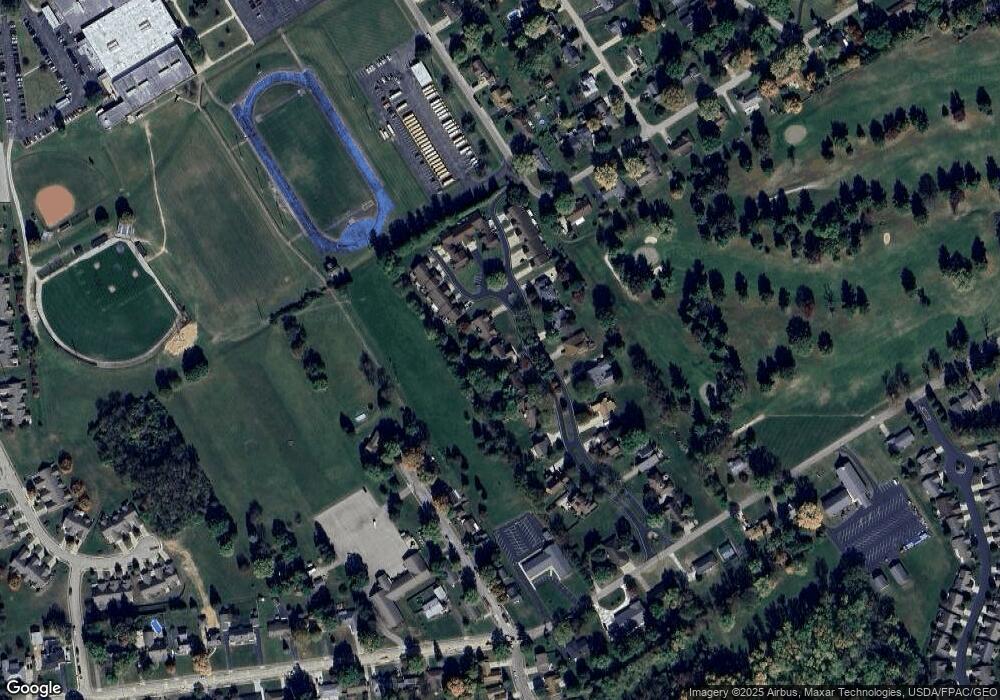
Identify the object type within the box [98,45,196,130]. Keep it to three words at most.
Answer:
building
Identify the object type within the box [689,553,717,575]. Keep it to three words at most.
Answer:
house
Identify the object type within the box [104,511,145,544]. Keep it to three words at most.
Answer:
house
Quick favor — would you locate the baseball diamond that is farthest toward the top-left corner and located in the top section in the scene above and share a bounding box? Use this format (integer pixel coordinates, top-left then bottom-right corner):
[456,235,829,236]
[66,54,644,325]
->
[14,152,114,230]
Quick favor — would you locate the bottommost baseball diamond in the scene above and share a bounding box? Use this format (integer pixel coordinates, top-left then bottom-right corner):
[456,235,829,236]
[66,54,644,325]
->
[37,238,184,367]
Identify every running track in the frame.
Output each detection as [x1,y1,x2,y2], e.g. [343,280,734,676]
[229,66,396,257]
